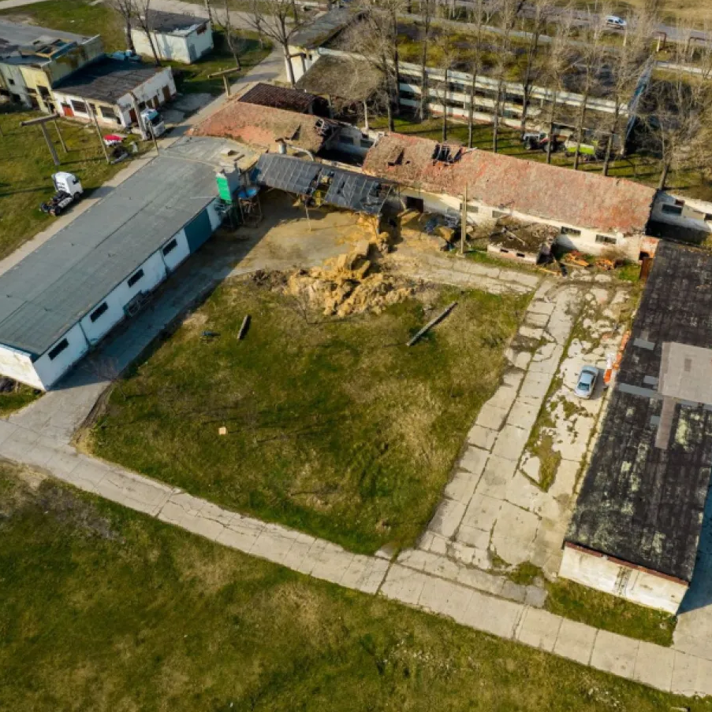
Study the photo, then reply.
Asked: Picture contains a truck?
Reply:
Yes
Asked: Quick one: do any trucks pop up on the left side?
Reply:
Yes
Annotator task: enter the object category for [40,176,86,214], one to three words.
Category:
truck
